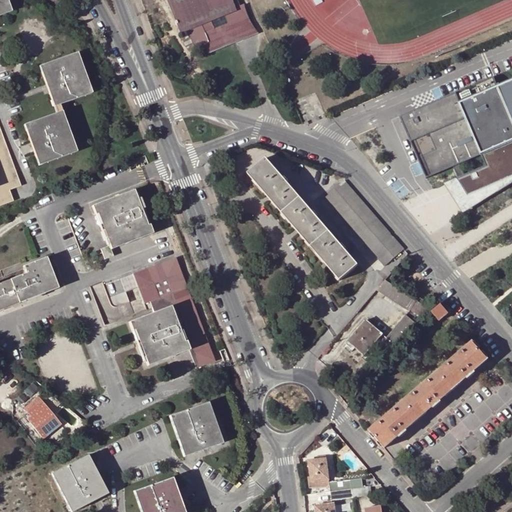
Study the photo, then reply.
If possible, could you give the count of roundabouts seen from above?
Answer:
1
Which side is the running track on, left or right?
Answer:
right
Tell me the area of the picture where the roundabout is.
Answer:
bottom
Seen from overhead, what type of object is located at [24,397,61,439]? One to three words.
house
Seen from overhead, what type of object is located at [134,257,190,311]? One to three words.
building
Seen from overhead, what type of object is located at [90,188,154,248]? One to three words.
building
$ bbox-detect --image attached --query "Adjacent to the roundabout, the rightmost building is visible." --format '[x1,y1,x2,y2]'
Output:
[367,339,486,446]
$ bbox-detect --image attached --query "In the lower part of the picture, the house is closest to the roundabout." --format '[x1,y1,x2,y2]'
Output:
[306,456,329,488]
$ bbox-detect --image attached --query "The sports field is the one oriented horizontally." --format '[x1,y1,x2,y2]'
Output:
[362,0,496,45]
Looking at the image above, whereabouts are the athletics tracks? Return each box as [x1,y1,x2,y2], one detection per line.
[294,0,512,64]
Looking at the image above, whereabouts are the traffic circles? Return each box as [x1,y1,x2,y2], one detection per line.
[251,367,330,449]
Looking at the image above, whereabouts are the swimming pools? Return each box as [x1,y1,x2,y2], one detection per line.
[338,448,366,473]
